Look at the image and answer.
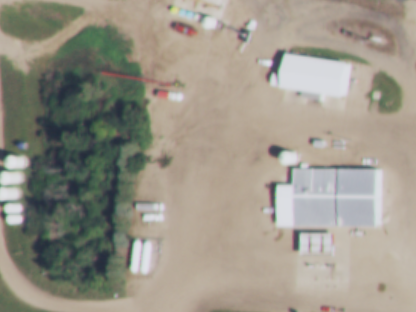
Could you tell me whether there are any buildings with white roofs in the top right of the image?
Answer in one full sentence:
Yes, a building with a white roof shows up in the top right of the image.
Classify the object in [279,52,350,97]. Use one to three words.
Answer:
building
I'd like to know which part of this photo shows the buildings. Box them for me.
[279,52,350,97]
[276,168,381,228]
